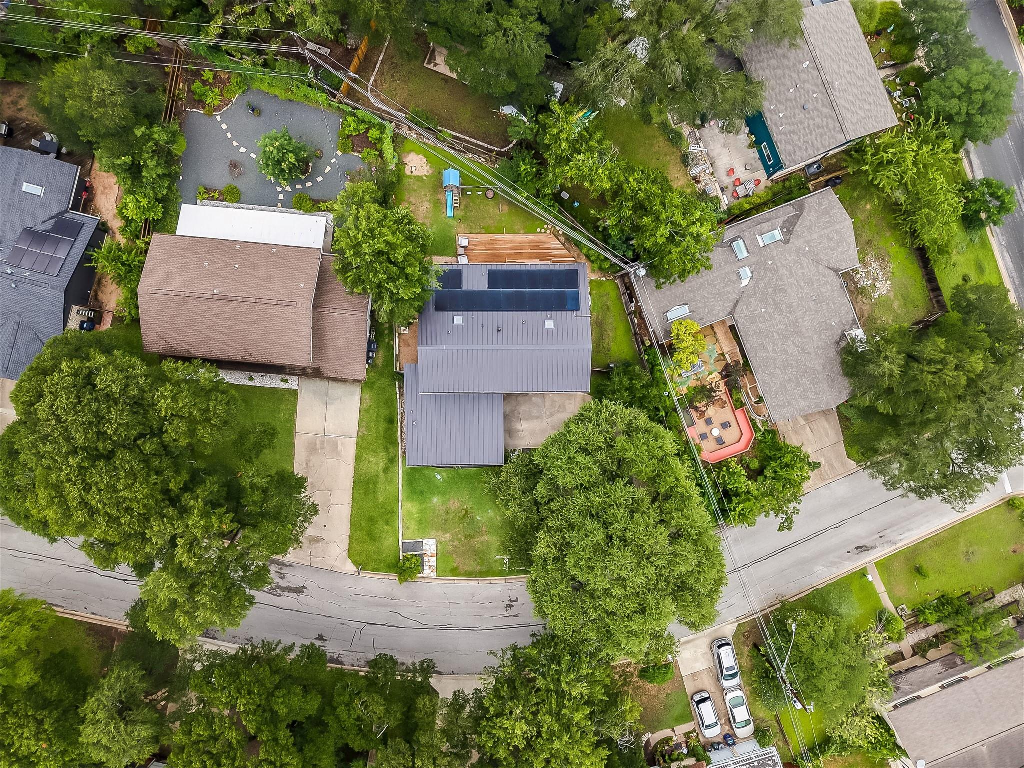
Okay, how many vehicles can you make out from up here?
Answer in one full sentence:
In total, there are 3 vehicles in the scene.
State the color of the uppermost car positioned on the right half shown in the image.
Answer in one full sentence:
The uppermost car positioned on the right half looks white in the image.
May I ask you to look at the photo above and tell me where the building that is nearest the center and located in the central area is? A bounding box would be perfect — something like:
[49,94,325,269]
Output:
[405,262,592,469]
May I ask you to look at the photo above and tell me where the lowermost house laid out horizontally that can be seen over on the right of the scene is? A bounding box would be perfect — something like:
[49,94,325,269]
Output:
[702,732,783,768]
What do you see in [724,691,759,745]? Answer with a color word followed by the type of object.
white car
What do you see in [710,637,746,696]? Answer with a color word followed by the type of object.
white car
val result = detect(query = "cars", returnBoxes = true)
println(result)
[691,691,725,745]
[724,691,759,745]
[710,637,746,696]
